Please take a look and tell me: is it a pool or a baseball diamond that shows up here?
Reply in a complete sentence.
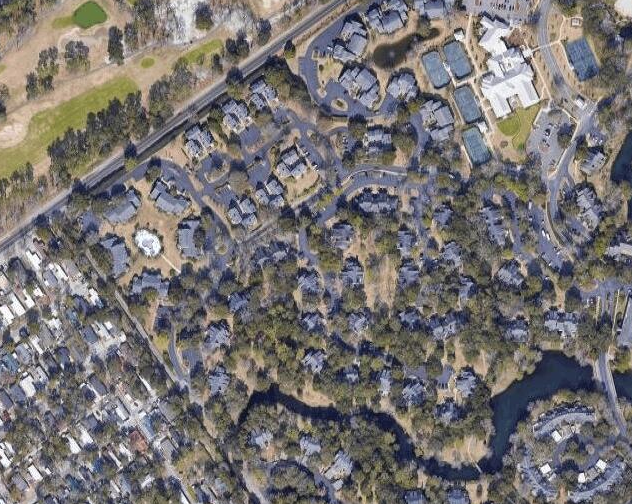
Of the two, only a pool appears.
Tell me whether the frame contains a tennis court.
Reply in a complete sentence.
Yes, the picture does show a tennis court.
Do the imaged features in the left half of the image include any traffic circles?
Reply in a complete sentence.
No, no traffic circle is visible in the left half of the image.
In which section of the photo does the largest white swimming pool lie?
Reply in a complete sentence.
The largest white swimming pool appears toward the left of the photo.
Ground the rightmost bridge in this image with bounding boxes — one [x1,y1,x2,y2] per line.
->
[597,351,621,402]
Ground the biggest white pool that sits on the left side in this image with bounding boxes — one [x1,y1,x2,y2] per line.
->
[134,229,161,257]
